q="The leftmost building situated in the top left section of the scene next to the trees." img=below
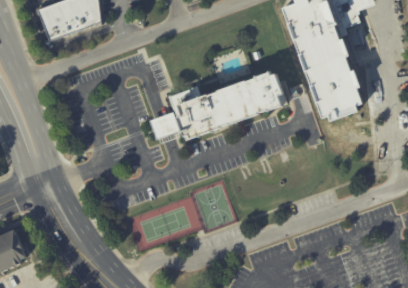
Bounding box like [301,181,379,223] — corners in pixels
[39,0,101,40]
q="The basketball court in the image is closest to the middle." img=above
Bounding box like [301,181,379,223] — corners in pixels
[193,182,238,232]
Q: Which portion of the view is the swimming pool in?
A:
top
